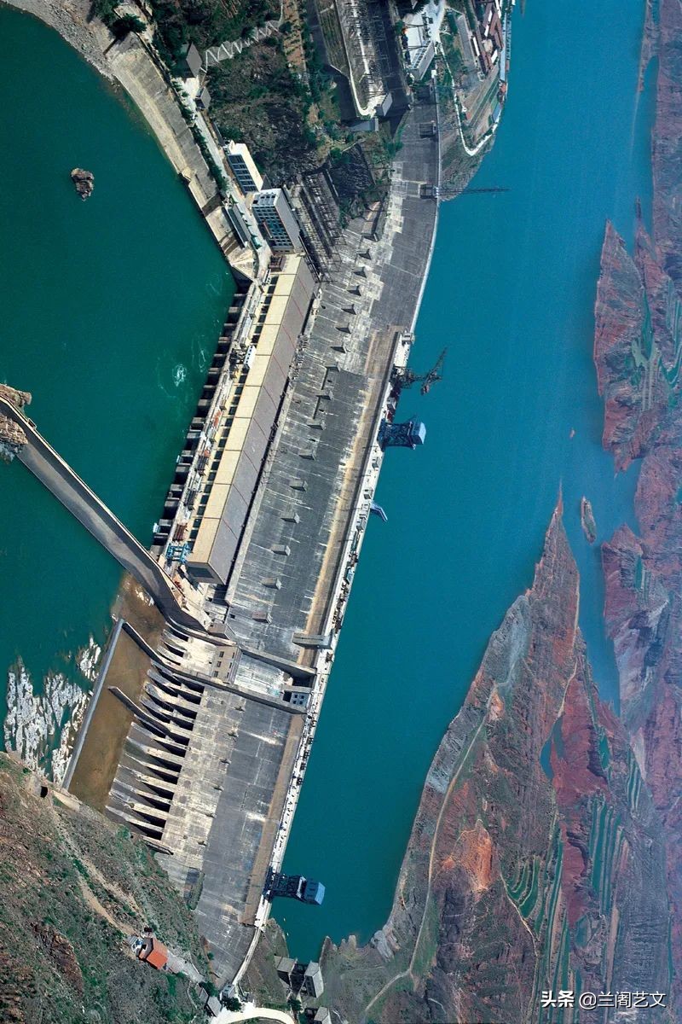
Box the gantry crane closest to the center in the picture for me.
[370,413,417,448]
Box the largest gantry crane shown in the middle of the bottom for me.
[267,853,327,895]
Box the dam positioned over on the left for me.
[101,72,441,984]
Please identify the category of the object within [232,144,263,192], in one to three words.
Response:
building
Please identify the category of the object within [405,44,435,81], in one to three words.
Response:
building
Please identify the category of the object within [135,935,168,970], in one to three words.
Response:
house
